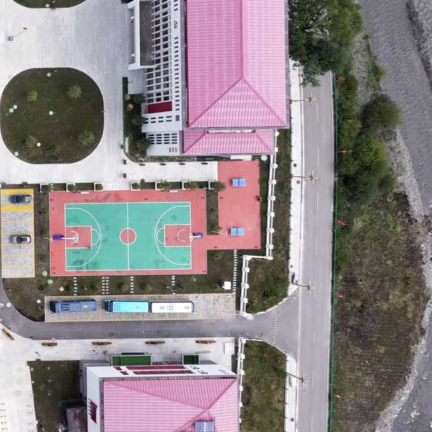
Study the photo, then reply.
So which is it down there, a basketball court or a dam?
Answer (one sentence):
It is a basketball court that can be seen here.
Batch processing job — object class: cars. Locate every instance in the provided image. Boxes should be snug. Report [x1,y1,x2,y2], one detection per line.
[11,235,32,245]
[11,195,33,204]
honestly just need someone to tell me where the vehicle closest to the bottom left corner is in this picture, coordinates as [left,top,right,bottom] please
[50,301,100,316]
